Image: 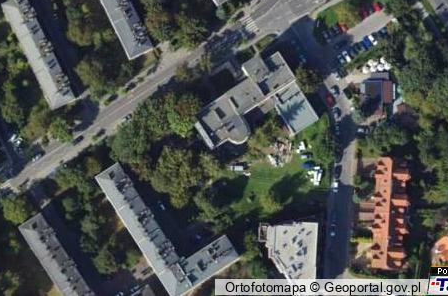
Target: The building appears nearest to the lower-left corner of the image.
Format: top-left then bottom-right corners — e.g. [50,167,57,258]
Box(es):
[19,214,90,296]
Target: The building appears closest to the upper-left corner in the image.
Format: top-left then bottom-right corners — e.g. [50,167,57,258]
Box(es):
[1,0,75,111]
